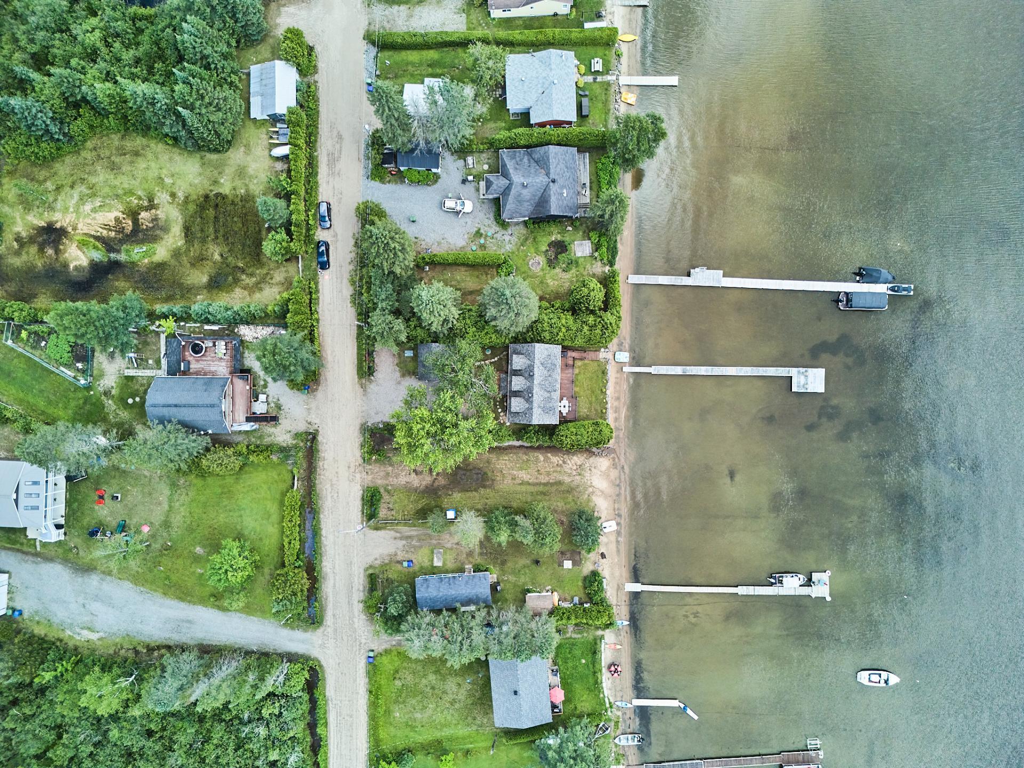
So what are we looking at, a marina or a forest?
marina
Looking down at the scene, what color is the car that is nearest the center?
white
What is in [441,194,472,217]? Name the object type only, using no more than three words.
car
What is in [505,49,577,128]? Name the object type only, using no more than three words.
house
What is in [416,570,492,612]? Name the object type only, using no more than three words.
house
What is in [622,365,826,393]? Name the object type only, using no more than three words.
pier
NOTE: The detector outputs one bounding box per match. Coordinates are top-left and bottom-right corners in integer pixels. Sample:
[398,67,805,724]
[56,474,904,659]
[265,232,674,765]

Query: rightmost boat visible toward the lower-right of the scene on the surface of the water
[856,672,903,688]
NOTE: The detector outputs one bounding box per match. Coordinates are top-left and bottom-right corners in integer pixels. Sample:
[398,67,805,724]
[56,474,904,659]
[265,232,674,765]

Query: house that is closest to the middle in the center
[498,343,561,425]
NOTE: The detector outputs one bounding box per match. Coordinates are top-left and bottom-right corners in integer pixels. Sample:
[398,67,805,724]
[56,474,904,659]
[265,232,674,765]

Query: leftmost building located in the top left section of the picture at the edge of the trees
[244,60,299,125]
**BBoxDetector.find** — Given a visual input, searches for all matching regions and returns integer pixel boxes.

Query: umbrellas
[610,663,621,676]
[550,687,563,702]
